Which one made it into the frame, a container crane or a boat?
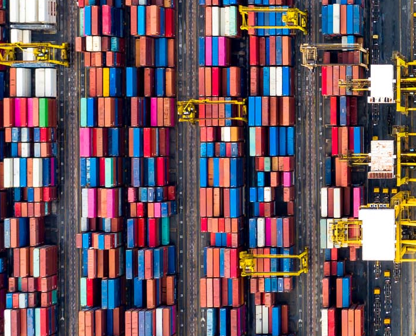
container crane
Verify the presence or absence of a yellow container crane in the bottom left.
No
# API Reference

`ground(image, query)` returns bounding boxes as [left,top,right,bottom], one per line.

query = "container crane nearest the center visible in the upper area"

[176,96,248,126]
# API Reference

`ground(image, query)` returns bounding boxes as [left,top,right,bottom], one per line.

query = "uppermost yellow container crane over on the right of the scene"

[239,5,312,37]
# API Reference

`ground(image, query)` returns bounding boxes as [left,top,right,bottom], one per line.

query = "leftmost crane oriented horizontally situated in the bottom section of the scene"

[239,243,312,280]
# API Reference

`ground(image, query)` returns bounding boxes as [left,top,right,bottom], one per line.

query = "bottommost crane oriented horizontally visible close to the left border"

[0,42,75,71]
